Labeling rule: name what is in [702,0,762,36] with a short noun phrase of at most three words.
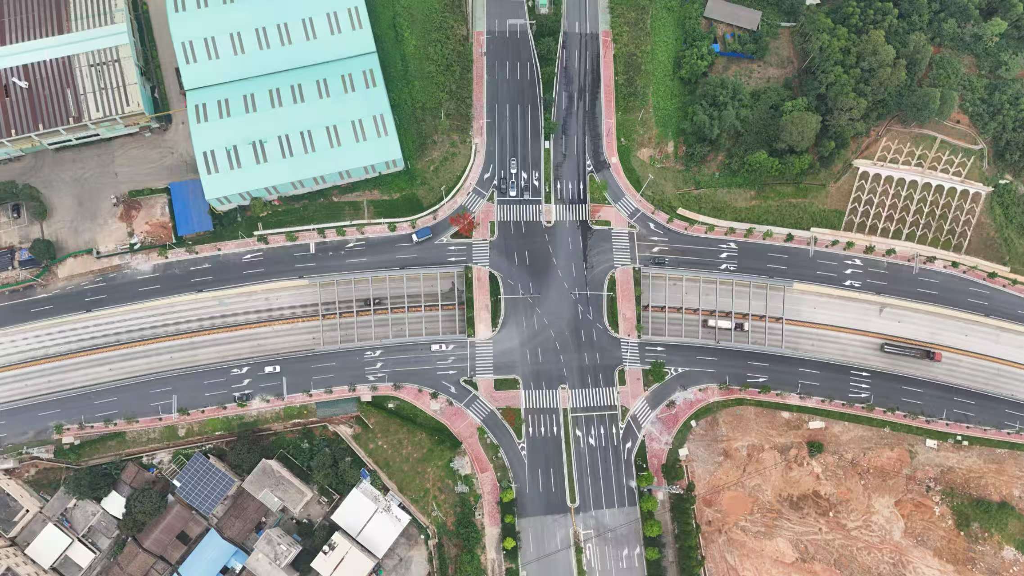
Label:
shed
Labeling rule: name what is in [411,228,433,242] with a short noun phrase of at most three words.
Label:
vehicle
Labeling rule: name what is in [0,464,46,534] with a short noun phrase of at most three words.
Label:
building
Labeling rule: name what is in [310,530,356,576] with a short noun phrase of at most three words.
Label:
house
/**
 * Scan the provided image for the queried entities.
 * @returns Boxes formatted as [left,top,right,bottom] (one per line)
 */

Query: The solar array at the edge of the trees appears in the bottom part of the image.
[175,451,240,517]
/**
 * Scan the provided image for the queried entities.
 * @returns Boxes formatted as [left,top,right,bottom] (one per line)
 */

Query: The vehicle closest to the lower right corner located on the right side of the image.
[879,343,943,362]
